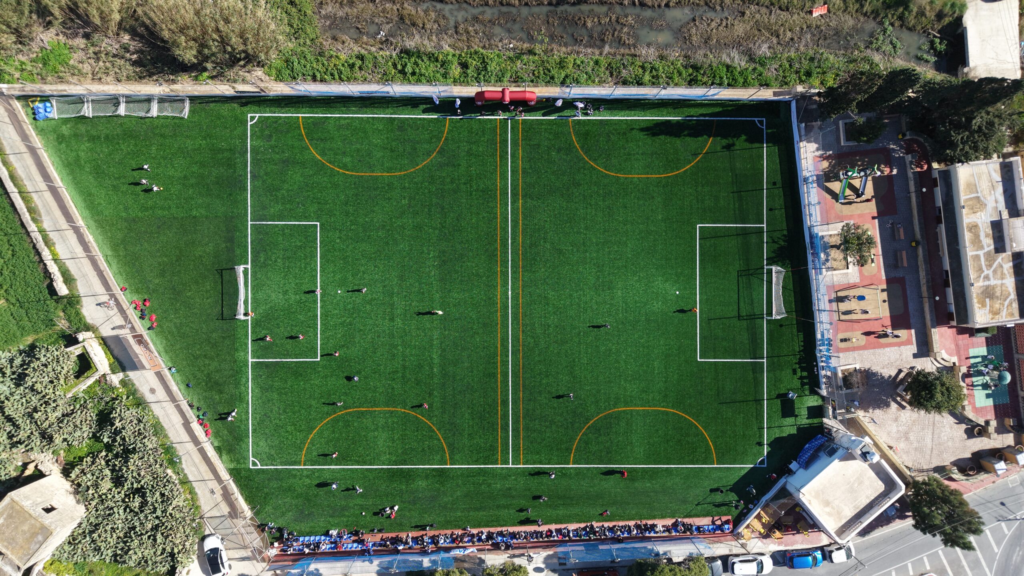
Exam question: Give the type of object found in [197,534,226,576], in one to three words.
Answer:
car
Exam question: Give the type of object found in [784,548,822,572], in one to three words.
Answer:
car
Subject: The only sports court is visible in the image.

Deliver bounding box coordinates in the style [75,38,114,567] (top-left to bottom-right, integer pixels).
[932,324,1024,421]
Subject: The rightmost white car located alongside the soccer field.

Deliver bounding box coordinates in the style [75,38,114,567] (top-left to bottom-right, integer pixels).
[727,552,772,576]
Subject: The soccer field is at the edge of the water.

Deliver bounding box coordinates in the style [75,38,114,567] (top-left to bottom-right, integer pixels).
[15,97,824,544]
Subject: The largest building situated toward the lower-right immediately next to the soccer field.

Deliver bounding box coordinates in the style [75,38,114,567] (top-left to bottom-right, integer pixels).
[784,426,907,545]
